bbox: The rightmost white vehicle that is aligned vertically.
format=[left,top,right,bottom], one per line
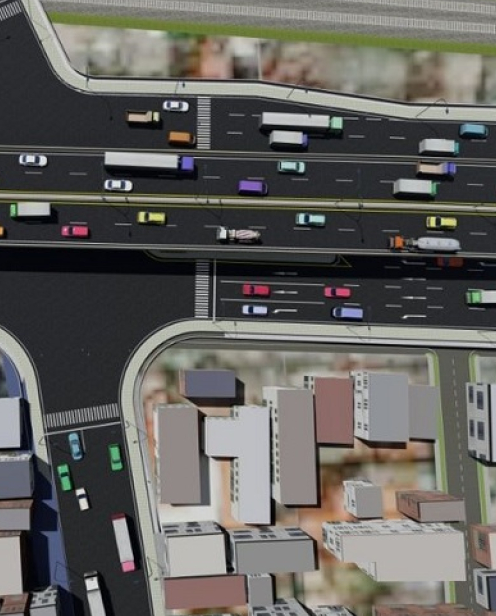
[111,512,137,574]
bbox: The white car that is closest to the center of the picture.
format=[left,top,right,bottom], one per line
[240,304,267,316]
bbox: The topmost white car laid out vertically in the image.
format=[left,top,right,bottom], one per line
[76,485,88,512]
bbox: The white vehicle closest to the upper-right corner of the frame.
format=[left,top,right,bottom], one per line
[416,139,460,157]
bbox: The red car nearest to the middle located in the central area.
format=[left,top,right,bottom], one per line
[242,284,268,296]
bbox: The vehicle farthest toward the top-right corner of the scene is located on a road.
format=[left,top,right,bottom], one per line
[457,125,487,140]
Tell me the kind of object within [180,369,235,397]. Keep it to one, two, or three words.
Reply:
building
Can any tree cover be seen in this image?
No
